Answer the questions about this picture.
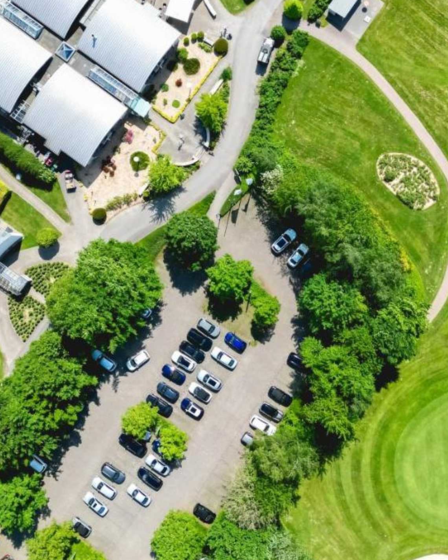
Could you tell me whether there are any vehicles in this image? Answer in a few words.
Yes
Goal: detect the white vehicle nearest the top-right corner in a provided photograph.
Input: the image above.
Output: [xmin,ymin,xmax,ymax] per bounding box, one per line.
[257,36,274,63]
